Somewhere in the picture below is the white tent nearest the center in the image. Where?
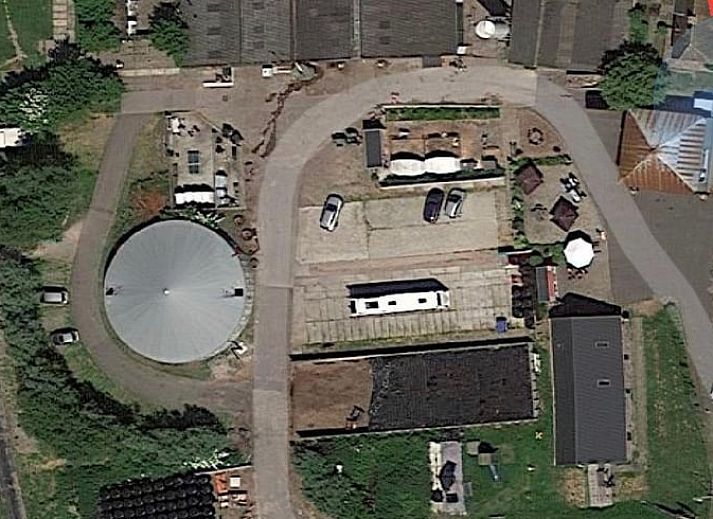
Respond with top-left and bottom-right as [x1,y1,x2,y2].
[391,160,430,174]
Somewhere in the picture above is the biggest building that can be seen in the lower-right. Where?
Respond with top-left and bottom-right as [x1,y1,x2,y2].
[549,316,632,467]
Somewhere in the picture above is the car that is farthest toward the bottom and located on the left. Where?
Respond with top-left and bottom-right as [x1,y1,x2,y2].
[51,329,80,347]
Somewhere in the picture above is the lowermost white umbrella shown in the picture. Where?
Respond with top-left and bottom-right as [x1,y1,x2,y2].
[565,238,595,268]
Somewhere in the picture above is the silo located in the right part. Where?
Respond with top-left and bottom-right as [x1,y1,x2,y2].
[476,19,511,39]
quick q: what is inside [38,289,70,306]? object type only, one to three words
car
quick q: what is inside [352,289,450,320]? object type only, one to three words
bus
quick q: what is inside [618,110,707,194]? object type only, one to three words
building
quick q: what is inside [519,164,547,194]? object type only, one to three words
gazebo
